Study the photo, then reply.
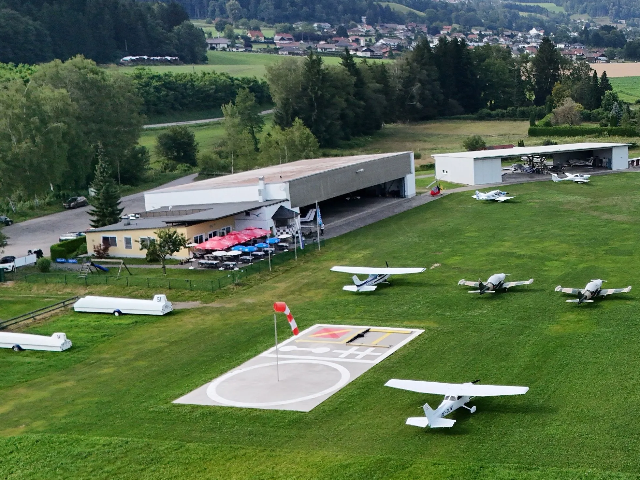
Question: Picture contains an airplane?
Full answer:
Yes, an airplane appears in the view.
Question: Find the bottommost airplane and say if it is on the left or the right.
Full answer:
The bottommost airplane appears in the right half of the scene.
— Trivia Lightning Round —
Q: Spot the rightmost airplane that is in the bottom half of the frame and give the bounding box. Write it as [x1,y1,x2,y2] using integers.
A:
[557,281,629,301]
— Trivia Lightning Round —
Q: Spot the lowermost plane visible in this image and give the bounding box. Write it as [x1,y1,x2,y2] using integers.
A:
[386,379,530,430]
